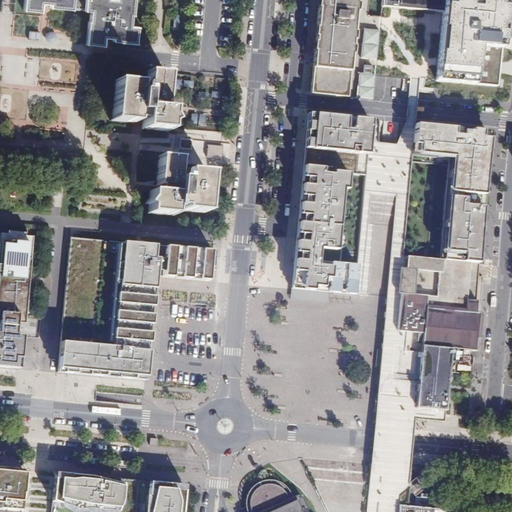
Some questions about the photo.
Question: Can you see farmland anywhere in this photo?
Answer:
No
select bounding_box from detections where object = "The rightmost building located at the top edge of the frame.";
[428,0,512,92]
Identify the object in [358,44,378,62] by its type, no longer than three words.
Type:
building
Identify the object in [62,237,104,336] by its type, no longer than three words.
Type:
building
